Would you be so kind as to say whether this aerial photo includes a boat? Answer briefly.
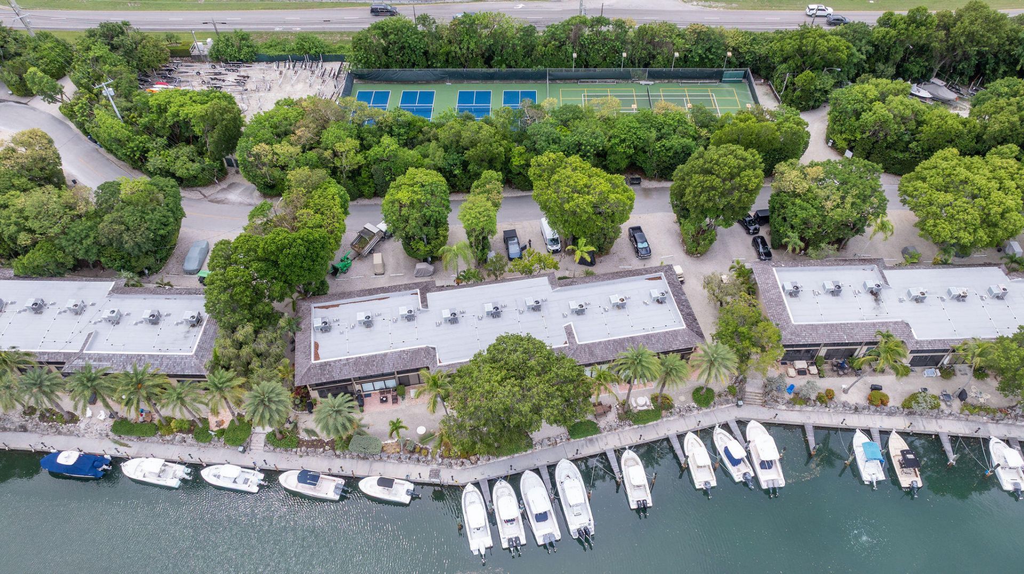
Yes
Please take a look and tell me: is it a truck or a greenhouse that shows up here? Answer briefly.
truck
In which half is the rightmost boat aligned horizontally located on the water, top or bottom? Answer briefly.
bottom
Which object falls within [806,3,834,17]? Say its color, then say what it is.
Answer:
white car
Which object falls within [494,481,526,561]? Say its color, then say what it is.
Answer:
white boat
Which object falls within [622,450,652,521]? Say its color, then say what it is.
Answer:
white boat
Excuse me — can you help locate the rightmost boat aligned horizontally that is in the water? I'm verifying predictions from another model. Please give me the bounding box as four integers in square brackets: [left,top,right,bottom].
[359,478,423,507]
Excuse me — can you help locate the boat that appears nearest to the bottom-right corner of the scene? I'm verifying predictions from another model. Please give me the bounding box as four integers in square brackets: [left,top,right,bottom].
[987,438,1024,501]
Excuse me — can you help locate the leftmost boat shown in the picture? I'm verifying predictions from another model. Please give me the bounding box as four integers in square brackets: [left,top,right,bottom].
[40,452,119,481]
